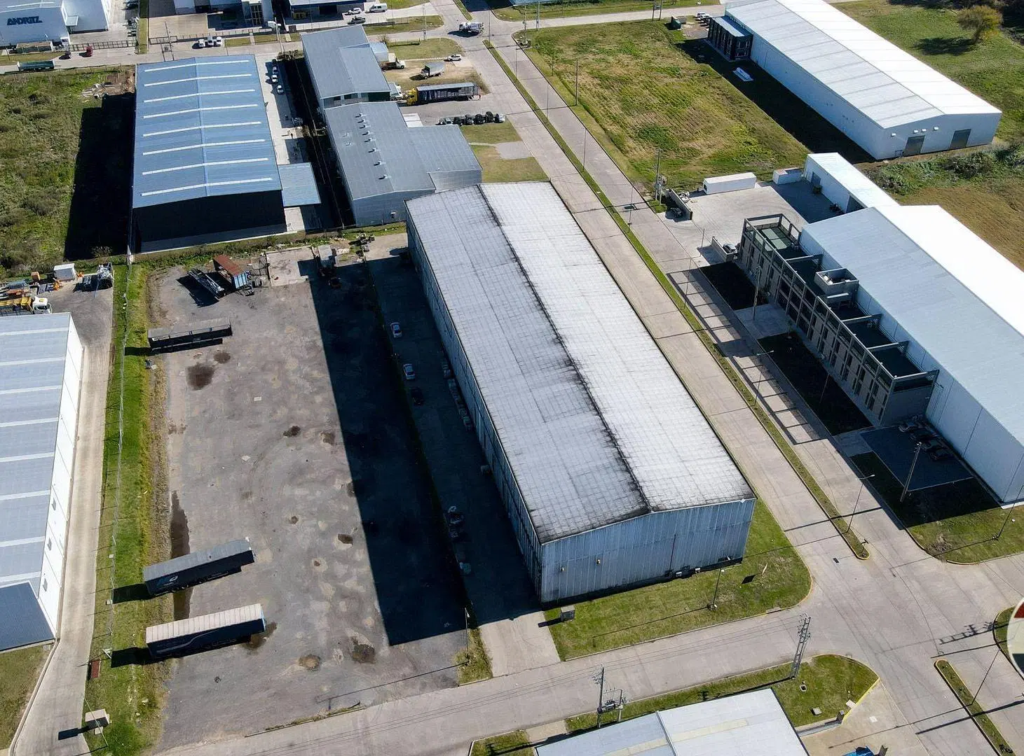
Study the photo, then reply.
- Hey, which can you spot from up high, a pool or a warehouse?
warehouse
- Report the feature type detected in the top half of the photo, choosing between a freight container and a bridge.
freight container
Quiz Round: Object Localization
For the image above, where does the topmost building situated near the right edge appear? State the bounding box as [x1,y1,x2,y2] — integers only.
[681,0,1002,157]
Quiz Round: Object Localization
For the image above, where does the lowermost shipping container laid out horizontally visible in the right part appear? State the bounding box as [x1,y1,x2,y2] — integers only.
[703,167,760,195]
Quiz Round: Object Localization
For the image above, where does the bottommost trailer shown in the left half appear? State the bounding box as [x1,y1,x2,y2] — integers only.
[145,604,268,662]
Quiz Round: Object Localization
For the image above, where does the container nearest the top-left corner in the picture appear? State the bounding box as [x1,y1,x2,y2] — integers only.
[215,261,248,292]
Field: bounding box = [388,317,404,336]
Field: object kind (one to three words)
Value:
car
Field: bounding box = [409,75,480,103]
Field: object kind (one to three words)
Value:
truck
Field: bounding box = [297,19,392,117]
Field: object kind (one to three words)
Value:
building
